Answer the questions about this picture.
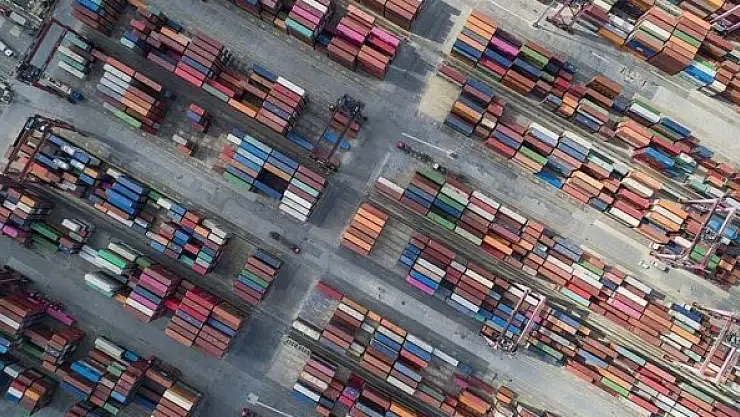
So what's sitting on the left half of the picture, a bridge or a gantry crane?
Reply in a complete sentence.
The one visible on the left half of the picture is a gantry crane.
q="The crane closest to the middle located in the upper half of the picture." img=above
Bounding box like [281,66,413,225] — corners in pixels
[304,87,371,172]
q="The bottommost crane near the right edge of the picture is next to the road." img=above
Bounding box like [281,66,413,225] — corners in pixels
[658,298,740,384]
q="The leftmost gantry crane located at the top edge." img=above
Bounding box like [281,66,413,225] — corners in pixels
[8,8,107,100]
